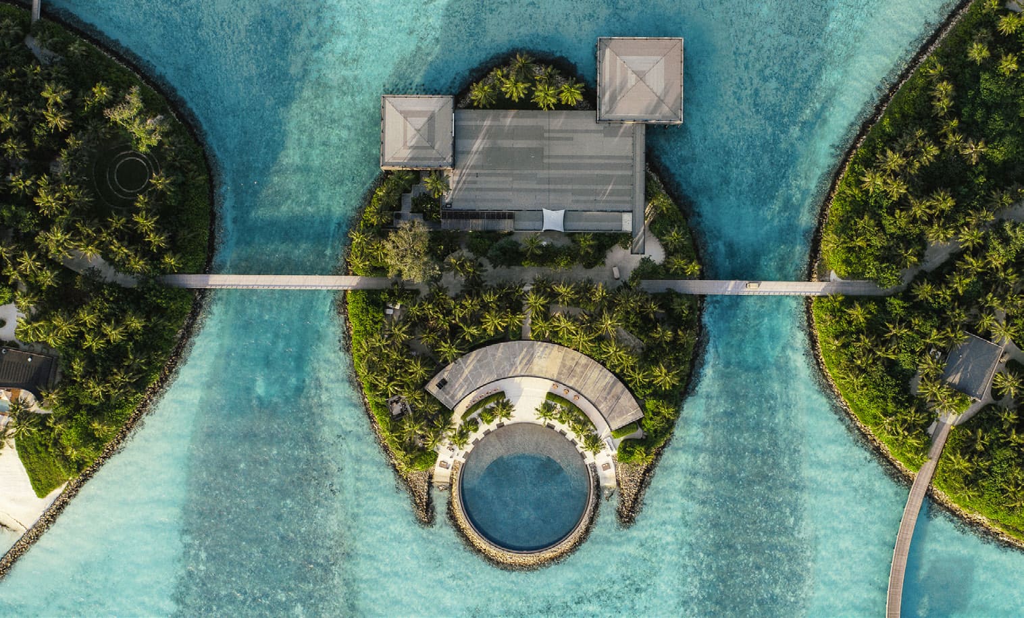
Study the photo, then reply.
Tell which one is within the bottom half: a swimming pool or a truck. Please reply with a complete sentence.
Visible within the bottom half is a swimming pool.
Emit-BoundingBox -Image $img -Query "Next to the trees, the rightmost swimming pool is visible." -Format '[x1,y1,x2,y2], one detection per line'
[457,420,592,558]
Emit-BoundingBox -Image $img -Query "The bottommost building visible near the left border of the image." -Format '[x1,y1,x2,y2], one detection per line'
[0,346,59,394]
